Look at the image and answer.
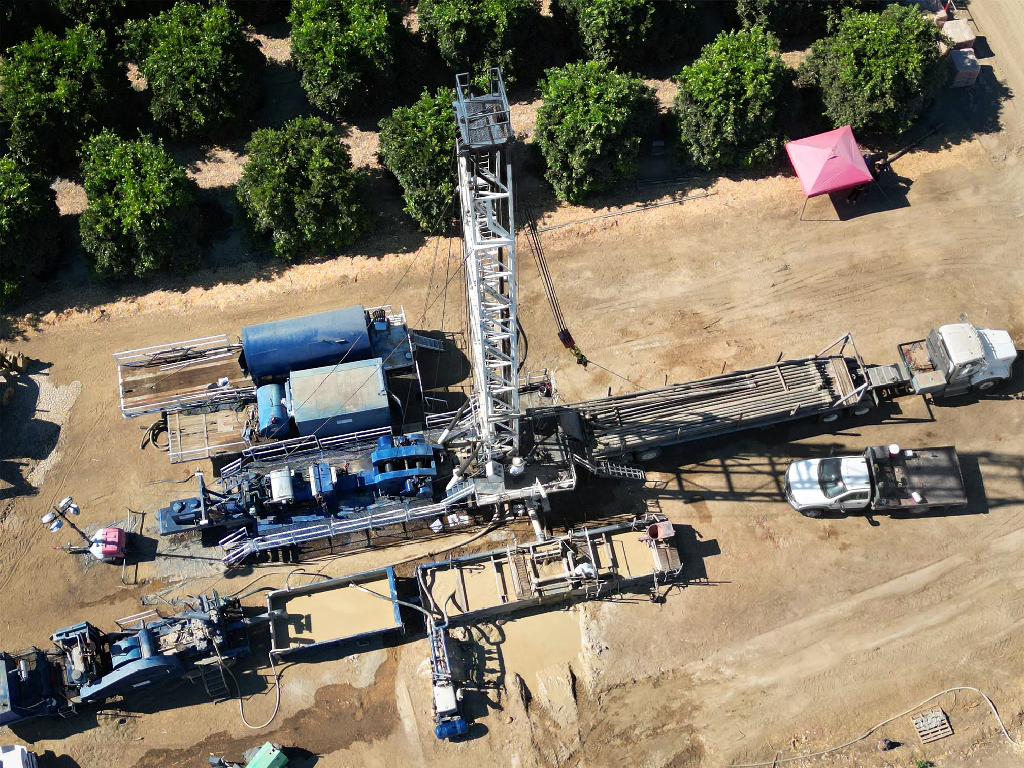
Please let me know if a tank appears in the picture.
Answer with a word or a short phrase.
Yes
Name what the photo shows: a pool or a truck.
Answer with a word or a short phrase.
truck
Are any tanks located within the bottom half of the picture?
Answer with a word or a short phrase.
Yes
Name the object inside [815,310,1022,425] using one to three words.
truck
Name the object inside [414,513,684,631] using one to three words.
storage tank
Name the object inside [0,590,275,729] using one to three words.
trailer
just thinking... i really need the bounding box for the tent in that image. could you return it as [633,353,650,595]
[781,126,892,221]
